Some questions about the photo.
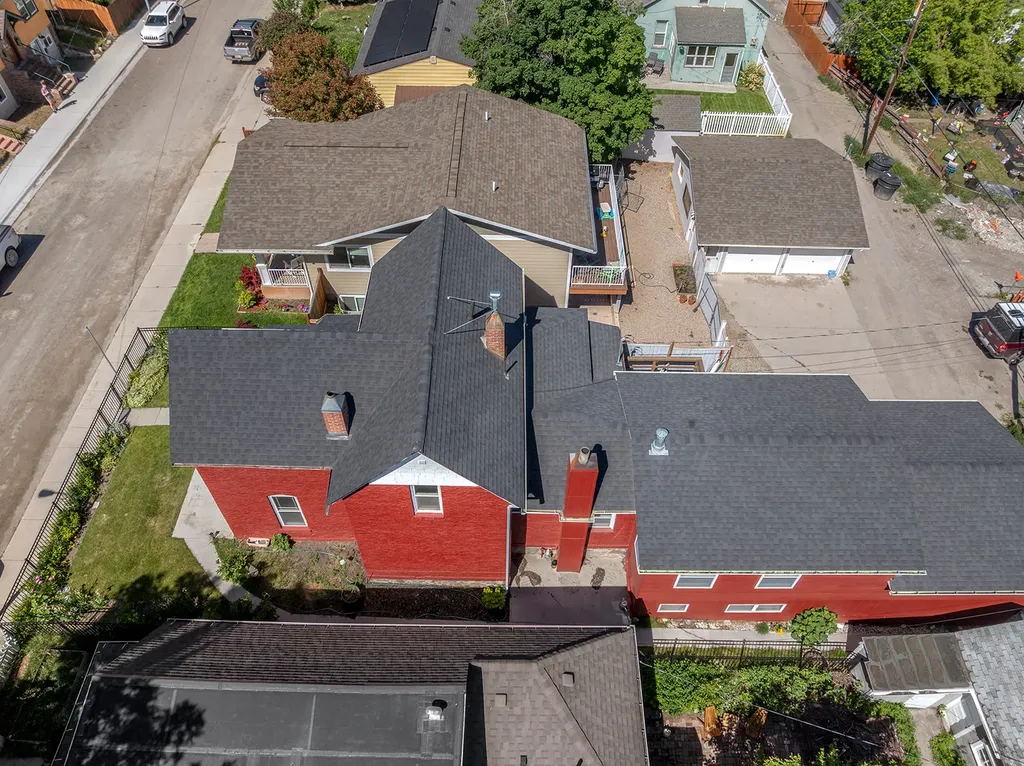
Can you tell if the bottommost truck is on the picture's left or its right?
right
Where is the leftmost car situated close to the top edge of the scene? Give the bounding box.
[139,0,194,45]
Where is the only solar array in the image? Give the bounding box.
[365,0,433,64]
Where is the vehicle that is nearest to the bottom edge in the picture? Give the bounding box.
[972,299,1024,368]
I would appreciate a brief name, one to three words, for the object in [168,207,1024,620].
house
